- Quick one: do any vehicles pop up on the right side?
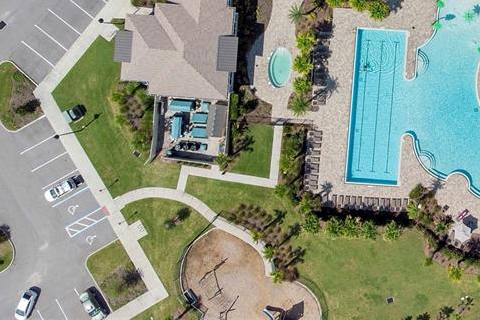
No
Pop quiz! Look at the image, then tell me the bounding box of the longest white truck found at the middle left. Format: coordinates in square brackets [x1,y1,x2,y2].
[43,175,86,203]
